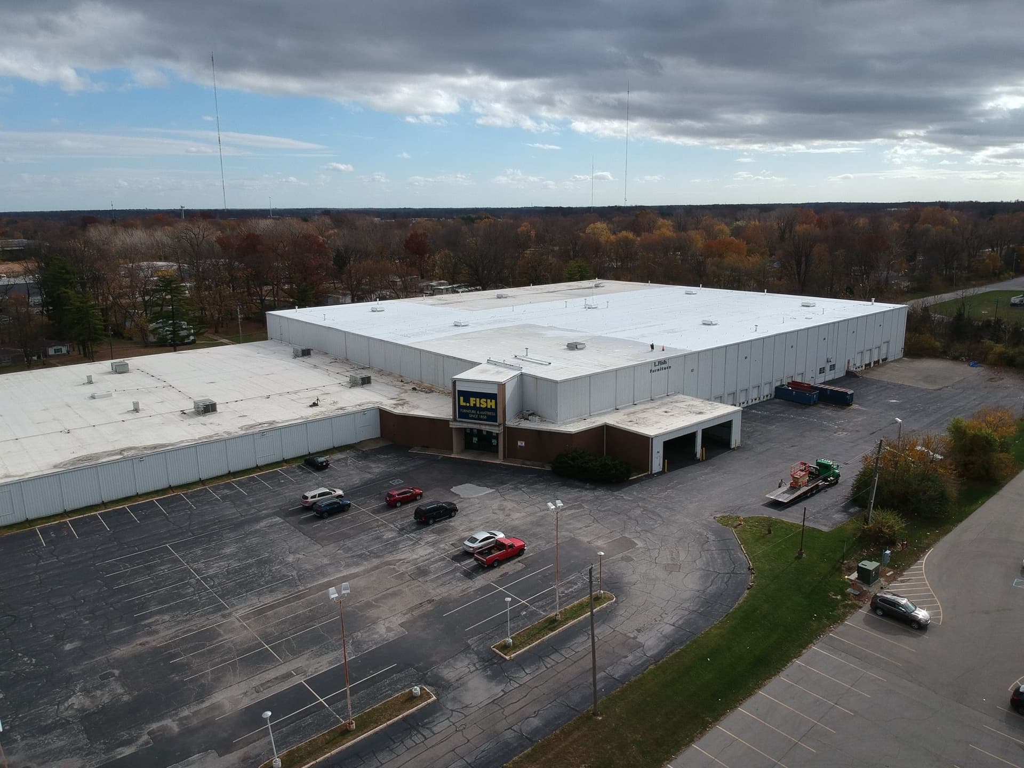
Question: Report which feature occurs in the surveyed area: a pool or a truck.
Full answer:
I can see a truck in this picture.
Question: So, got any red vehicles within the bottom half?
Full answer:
Yes, there is a red vehicle within the bottom half.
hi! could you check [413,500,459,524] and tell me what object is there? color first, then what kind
black car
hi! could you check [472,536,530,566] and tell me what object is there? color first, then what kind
red truck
